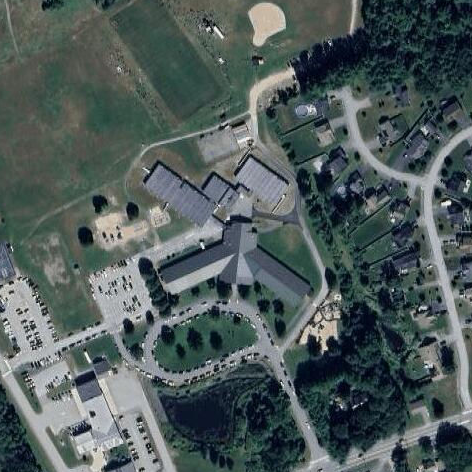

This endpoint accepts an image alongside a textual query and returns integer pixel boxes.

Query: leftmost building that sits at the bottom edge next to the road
[72,362,122,458]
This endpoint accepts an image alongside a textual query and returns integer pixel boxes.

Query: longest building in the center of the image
[158,222,312,309]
